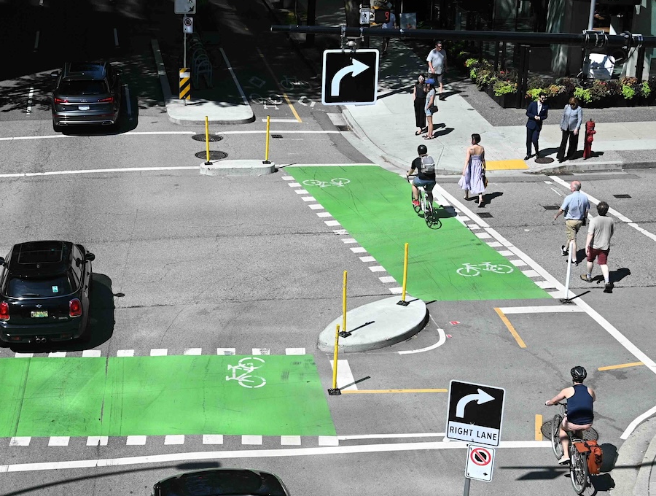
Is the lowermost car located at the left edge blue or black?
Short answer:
black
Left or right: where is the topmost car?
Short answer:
left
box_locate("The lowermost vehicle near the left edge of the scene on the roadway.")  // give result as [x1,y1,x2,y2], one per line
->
[0,239,98,345]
